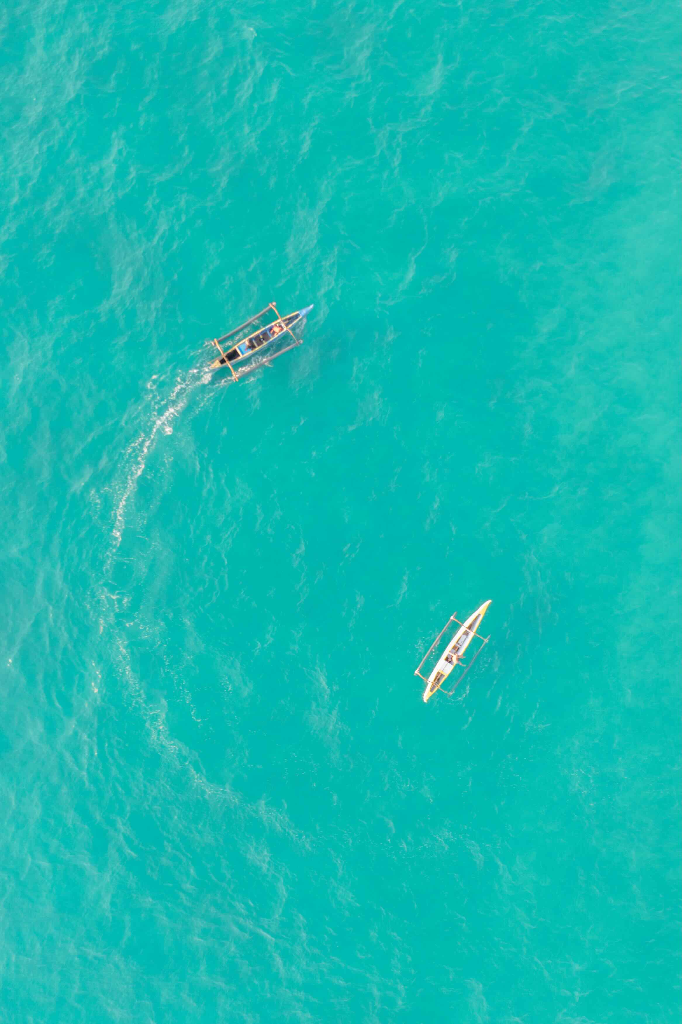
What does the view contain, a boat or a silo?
boat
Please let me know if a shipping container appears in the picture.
No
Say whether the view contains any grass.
No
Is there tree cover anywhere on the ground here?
No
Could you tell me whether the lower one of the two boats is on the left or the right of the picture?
right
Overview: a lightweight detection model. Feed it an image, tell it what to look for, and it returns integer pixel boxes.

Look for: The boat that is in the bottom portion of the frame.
[414,600,492,702]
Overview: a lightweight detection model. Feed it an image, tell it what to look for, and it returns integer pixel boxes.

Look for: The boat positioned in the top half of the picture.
[208,302,314,382]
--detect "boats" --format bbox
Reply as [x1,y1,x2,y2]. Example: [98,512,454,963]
[414,600,492,702]
[208,302,314,382]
